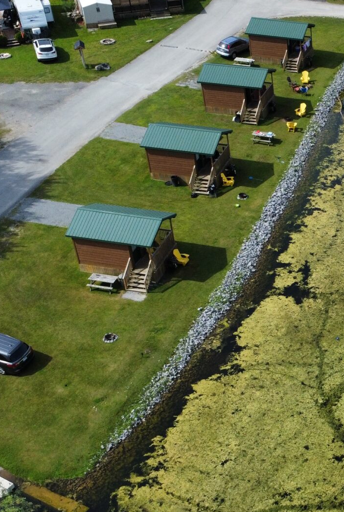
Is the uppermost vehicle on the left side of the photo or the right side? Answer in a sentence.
The uppermost vehicle sits on the left side.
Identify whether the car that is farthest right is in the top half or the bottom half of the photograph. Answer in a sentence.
The car that is farthest right is in the top half of the image.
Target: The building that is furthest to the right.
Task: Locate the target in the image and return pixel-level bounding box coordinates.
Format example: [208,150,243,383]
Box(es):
[245,16,320,72]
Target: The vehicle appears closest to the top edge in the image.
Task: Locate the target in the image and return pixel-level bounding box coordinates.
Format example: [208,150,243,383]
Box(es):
[19,0,64,41]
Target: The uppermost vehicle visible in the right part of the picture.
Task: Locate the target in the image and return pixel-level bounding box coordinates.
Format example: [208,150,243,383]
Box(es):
[216,36,249,59]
